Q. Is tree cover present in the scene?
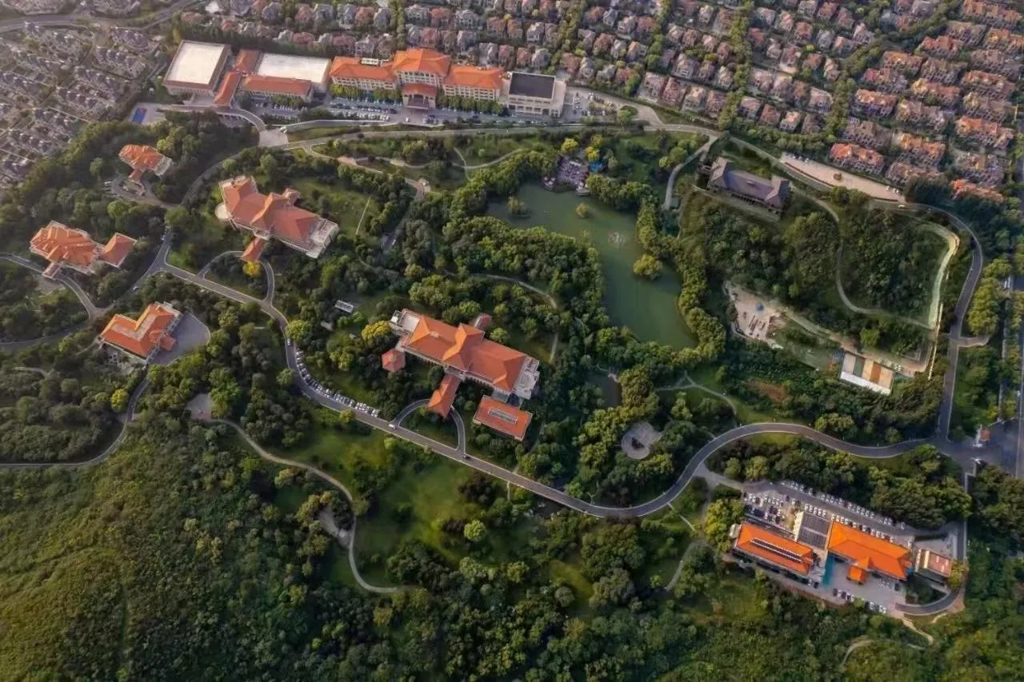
Yes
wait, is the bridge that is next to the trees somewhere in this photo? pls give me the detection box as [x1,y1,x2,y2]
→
[157,102,265,133]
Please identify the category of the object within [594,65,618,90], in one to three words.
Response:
house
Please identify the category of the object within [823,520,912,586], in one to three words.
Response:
building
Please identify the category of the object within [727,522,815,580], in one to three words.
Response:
building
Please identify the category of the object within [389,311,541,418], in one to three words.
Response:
house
